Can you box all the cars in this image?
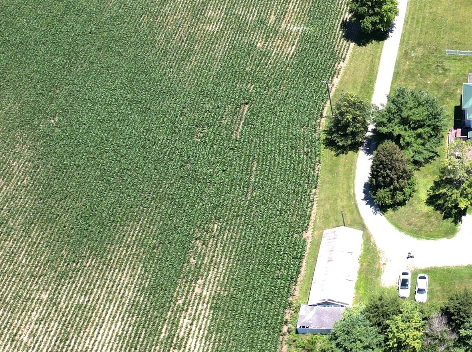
[413,273,429,305]
[397,268,411,299]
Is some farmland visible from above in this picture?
Yes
